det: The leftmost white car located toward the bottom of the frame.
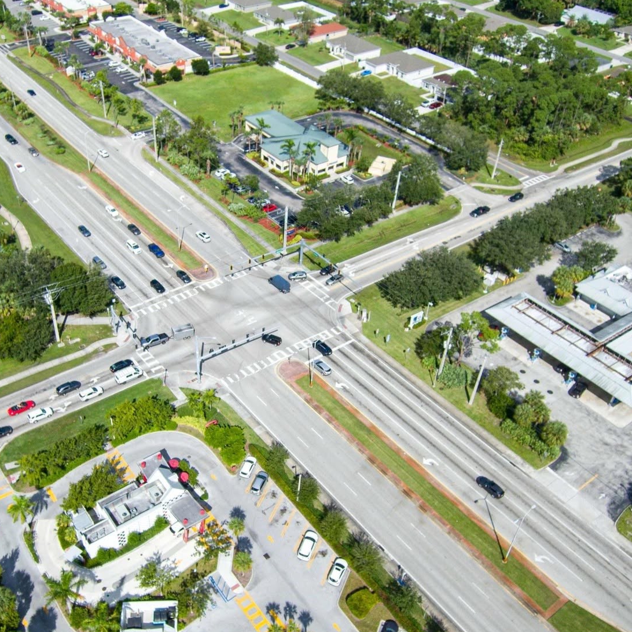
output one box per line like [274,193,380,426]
[25,407,56,426]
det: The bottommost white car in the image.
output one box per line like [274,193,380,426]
[326,557,350,587]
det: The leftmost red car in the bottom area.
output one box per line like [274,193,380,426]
[7,400,36,418]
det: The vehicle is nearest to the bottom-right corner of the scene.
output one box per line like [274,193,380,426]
[477,479,507,505]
